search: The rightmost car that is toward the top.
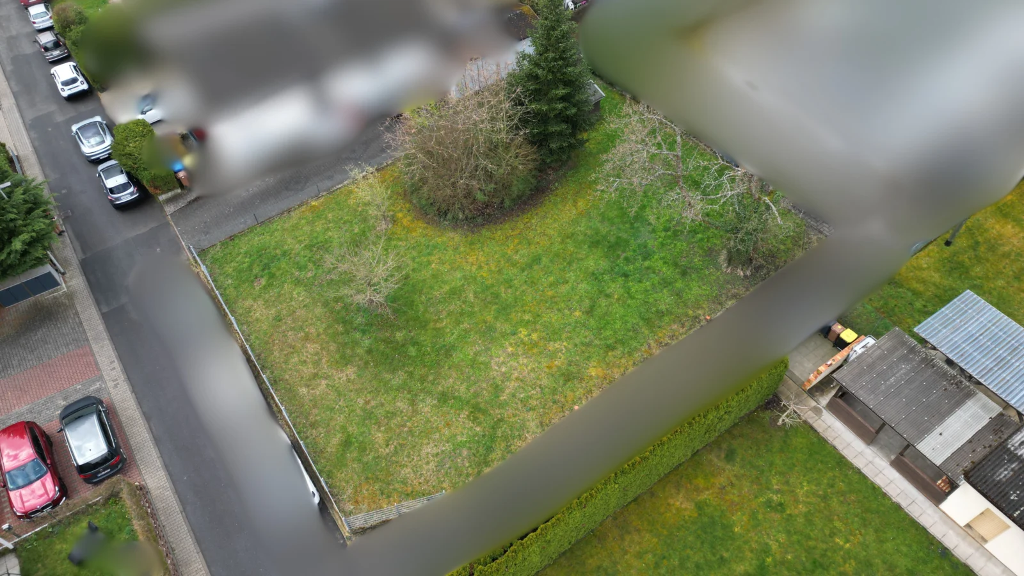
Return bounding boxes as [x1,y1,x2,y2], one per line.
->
[140,84,198,127]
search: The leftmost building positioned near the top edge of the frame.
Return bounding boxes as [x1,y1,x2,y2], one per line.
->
[136,0,419,159]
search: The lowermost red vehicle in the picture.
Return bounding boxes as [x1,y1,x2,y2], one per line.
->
[4,415,67,519]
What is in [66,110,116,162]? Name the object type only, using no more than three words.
car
